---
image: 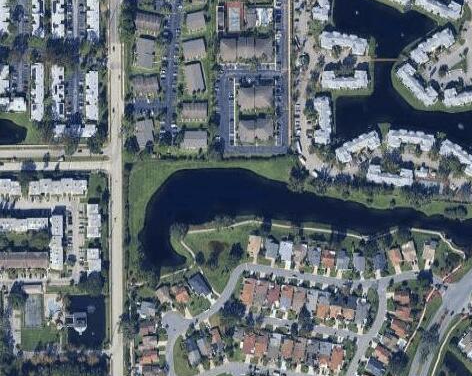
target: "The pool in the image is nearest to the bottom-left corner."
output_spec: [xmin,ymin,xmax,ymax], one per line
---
[45,294,64,330]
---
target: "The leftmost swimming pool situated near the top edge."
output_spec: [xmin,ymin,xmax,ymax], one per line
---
[257,8,273,26]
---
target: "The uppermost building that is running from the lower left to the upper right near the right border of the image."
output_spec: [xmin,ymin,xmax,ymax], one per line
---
[409,27,456,64]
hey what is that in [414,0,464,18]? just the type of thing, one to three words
building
